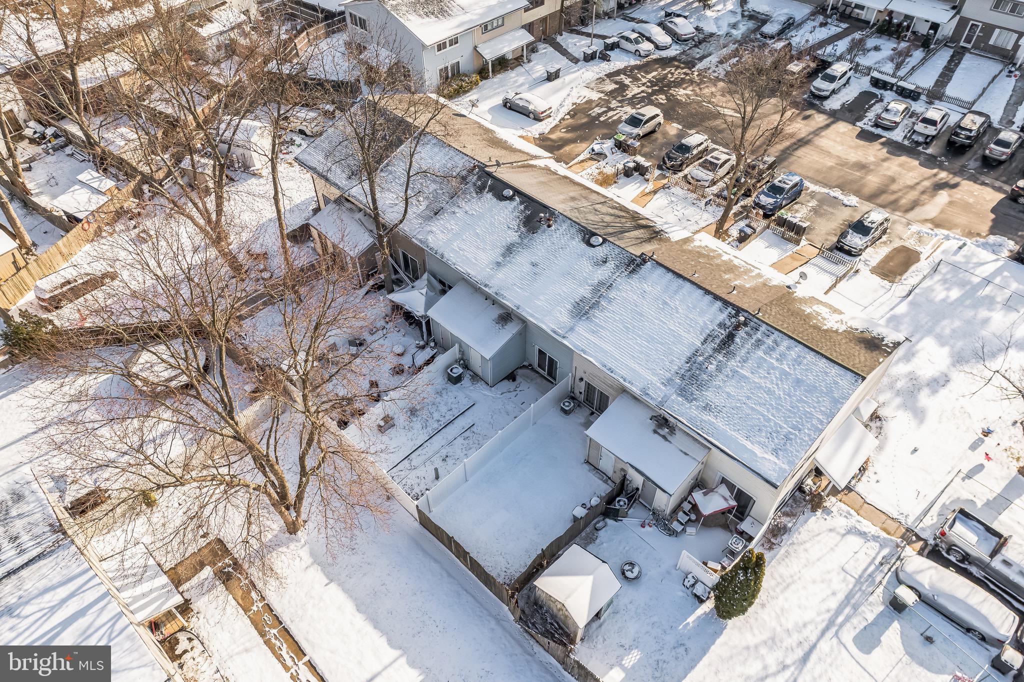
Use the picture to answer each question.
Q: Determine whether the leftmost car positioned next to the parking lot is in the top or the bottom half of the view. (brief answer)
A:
top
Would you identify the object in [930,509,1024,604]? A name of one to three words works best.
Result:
truck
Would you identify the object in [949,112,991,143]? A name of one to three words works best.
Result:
car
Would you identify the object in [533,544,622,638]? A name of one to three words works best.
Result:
shed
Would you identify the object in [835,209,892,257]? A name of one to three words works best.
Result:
car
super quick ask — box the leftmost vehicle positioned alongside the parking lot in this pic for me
[503,96,554,123]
